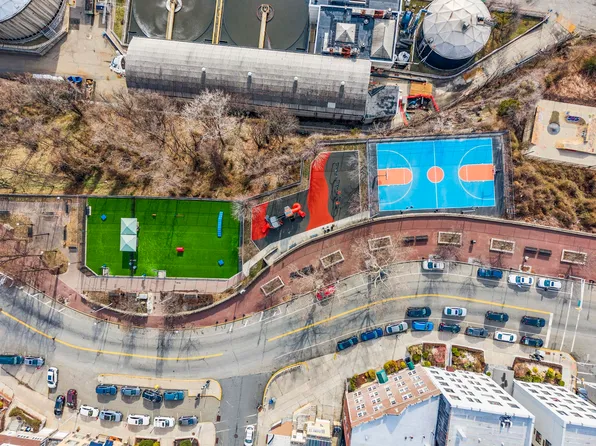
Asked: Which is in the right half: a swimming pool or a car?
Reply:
car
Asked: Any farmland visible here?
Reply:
No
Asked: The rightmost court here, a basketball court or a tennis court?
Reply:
basketball court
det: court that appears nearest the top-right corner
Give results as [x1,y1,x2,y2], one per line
[368,133,506,218]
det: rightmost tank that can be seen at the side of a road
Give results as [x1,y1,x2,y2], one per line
[408,0,499,72]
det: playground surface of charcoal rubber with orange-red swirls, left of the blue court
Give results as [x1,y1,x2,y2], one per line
[251,150,360,252]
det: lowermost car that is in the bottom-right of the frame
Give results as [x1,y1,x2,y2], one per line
[573,383,591,400]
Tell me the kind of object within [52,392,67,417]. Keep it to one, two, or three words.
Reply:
car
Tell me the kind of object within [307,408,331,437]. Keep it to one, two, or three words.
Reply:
house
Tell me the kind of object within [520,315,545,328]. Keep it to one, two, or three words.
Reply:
vehicle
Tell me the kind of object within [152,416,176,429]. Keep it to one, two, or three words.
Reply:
vehicle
